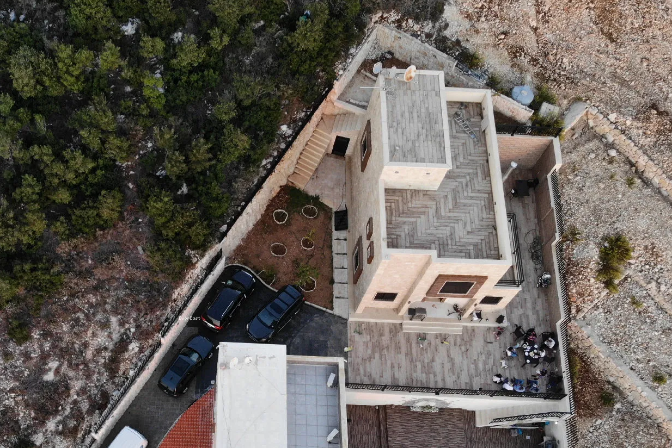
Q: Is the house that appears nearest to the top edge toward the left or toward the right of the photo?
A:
right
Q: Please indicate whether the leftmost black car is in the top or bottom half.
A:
bottom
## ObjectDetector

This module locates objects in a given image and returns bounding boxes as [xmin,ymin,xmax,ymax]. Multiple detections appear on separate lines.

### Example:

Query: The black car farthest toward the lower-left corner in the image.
[155,334,214,400]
